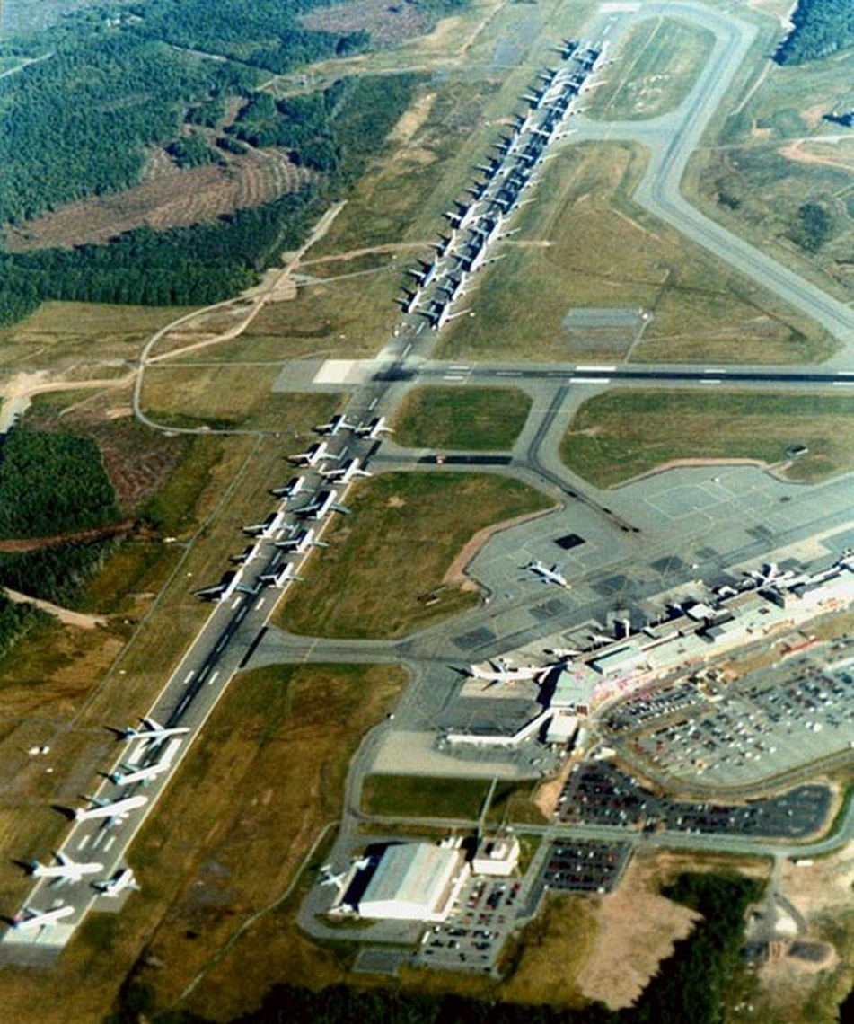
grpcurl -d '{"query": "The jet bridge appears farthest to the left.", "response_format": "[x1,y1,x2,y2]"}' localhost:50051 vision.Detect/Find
[536,661,560,674]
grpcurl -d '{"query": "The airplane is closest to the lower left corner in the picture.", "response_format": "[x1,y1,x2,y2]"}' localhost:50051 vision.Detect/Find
[11,905,74,931]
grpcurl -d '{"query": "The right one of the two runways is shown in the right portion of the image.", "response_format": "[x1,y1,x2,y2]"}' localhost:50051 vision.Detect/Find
[414,361,854,388]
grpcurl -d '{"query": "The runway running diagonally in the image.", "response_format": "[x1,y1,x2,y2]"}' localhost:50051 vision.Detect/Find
[2,3,647,945]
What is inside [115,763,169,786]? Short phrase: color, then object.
white airplane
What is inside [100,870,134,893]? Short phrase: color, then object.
white airplane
